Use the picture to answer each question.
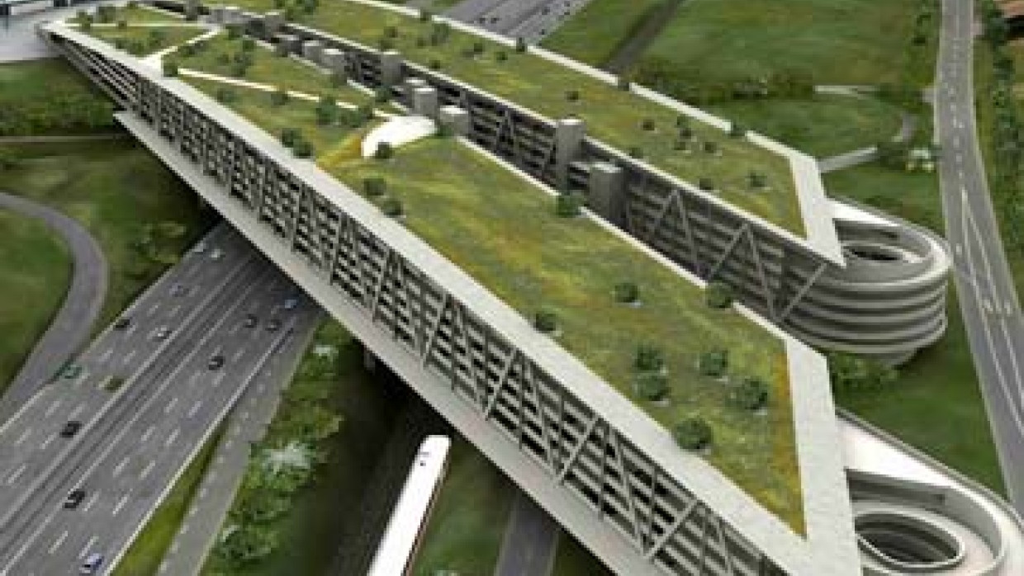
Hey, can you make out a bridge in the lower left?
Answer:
No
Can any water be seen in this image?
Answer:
No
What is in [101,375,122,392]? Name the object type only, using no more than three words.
car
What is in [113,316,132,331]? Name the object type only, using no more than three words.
car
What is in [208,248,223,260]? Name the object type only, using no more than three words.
vehicle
